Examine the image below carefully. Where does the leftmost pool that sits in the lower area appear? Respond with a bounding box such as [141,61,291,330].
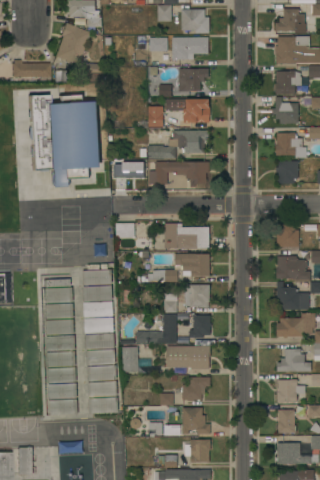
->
[124,316,140,338]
